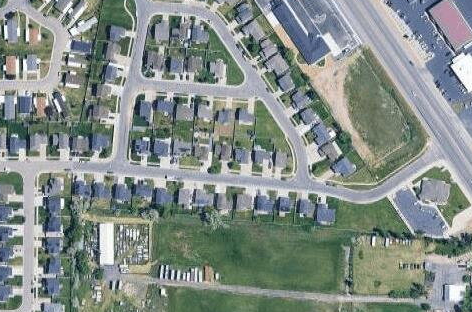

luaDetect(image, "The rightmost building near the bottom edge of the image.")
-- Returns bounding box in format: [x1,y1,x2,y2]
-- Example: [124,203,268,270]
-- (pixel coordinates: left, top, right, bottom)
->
[446,285,467,301]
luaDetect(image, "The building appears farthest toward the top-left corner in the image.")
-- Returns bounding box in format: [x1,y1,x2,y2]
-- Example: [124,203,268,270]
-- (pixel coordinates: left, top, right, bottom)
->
[4,19,21,42]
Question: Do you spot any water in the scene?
No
